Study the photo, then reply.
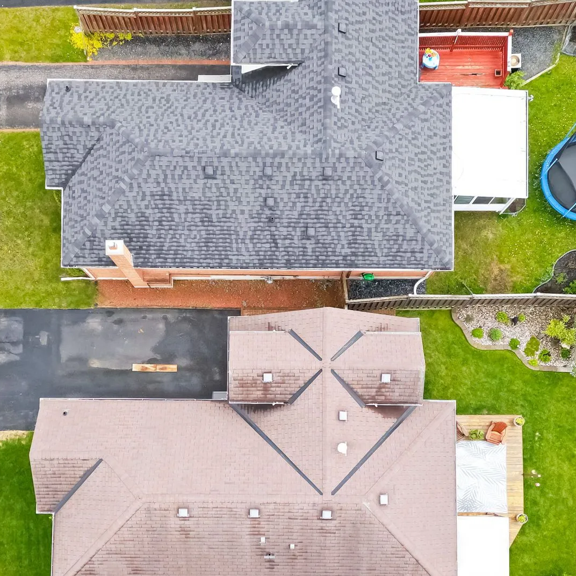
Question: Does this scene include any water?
No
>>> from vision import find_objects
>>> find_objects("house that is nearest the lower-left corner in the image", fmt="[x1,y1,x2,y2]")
[29,307,461,576]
